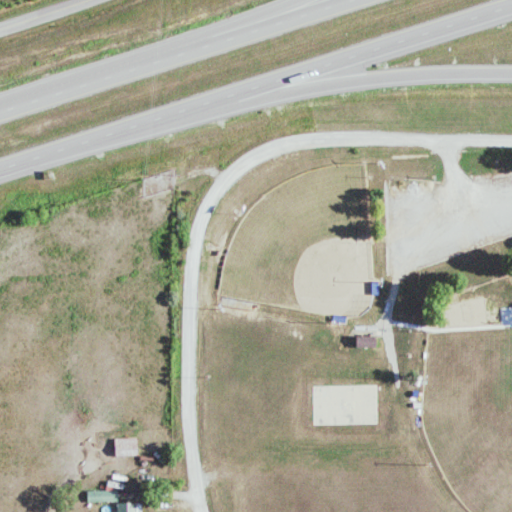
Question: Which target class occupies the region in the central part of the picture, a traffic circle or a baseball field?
baseball field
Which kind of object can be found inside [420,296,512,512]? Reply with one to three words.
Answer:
baseball field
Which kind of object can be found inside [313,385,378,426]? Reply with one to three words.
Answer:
sports court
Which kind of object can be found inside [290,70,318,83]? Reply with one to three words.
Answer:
vehicle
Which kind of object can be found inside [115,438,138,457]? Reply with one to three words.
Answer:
barn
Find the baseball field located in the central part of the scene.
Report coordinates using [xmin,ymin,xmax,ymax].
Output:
[220,164,374,317]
